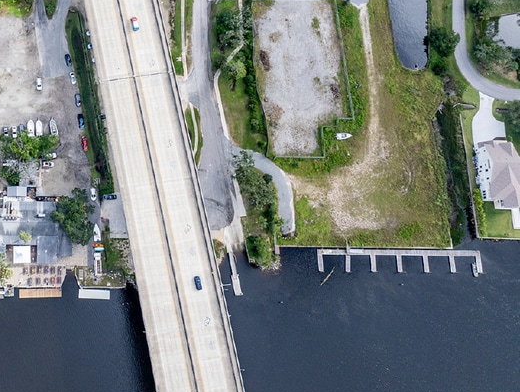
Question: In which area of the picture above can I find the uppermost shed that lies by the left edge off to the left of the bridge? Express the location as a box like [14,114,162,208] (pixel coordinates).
[20,160,38,186]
